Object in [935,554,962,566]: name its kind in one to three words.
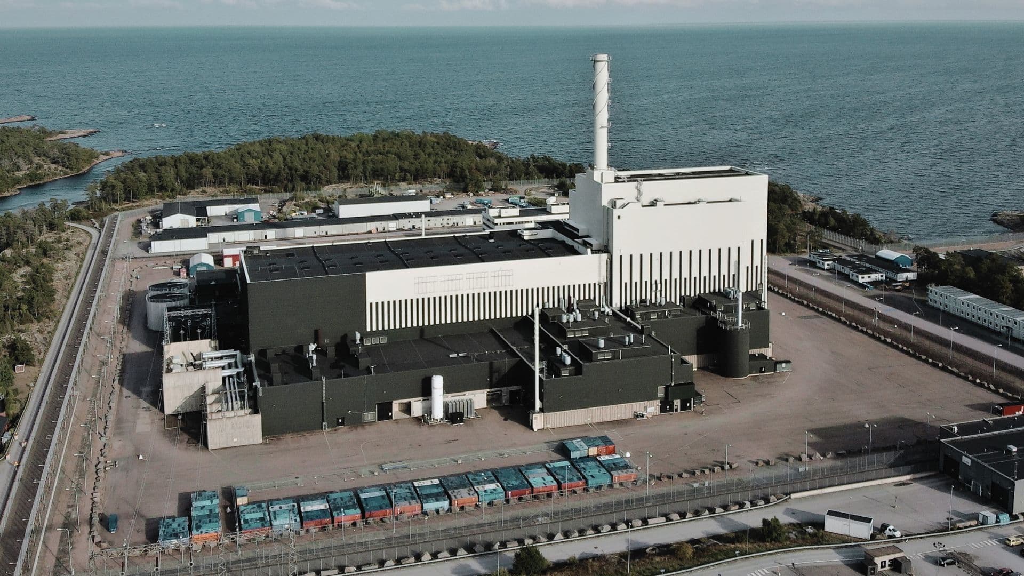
vehicle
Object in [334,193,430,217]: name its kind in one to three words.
building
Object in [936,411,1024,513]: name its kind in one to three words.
building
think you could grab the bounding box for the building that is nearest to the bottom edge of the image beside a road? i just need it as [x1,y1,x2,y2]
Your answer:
[860,542,919,576]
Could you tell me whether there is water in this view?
Yes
